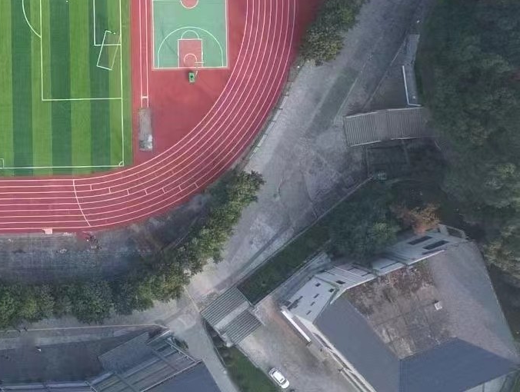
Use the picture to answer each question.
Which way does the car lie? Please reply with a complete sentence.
What the image shows is the car lying on a diagonal.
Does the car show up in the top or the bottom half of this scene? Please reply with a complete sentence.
You can find the car in the bottom half.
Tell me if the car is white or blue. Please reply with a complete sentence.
The car looks white in the image.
